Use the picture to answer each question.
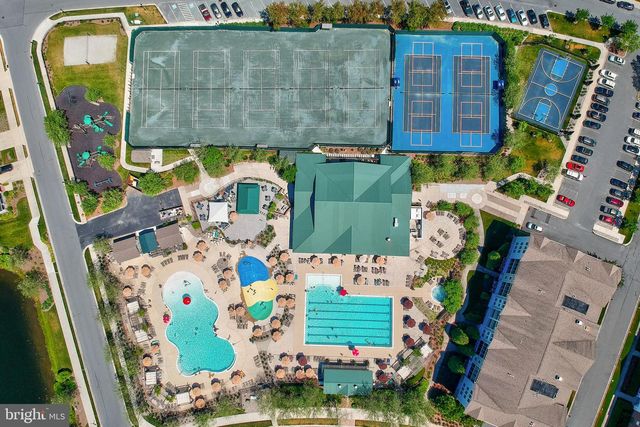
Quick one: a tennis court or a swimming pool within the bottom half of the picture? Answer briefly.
swimming pool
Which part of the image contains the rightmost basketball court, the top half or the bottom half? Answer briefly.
top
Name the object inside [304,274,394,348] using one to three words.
swimming pool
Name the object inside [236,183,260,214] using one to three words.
building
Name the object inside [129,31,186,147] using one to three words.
tennis court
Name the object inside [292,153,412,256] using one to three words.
building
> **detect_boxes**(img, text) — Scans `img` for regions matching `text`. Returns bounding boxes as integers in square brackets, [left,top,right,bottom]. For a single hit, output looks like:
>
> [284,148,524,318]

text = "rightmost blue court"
[513,49,588,131]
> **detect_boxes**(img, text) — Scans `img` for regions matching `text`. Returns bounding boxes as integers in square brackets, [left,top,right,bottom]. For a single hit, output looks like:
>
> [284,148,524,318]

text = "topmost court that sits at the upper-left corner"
[64,29,117,66]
